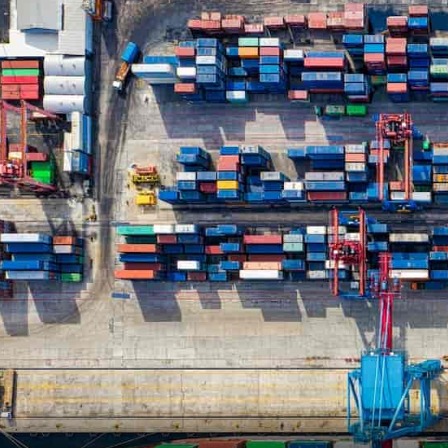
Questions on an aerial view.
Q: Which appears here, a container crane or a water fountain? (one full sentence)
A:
Looking from above, you can make out a container crane.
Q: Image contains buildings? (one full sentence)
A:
Yes, the image includes a building.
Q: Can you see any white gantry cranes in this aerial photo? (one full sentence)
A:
No, I find no white gantry crane anywhere in the image.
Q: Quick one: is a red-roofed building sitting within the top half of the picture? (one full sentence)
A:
No, the scene shows no red-roofed building within the top half of the picture.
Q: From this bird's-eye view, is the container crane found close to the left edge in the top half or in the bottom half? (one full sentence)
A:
It is in the top half that the container crane found close to the left edge appears.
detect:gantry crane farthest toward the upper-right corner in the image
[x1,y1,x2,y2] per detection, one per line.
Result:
[376,114,423,213]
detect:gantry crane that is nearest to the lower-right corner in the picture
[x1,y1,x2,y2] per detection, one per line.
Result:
[347,251,447,448]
